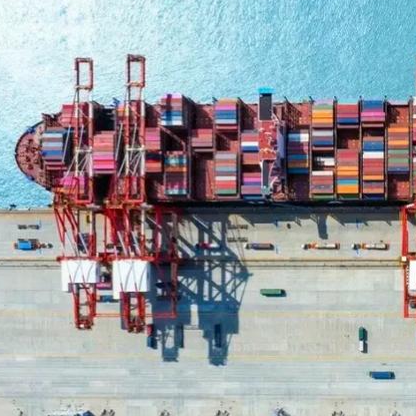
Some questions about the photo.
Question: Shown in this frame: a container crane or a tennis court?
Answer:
container crane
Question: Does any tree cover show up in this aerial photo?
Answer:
No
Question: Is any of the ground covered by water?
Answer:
Yes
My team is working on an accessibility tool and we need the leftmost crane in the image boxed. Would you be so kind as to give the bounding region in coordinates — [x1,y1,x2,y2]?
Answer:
[52,57,136,335]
